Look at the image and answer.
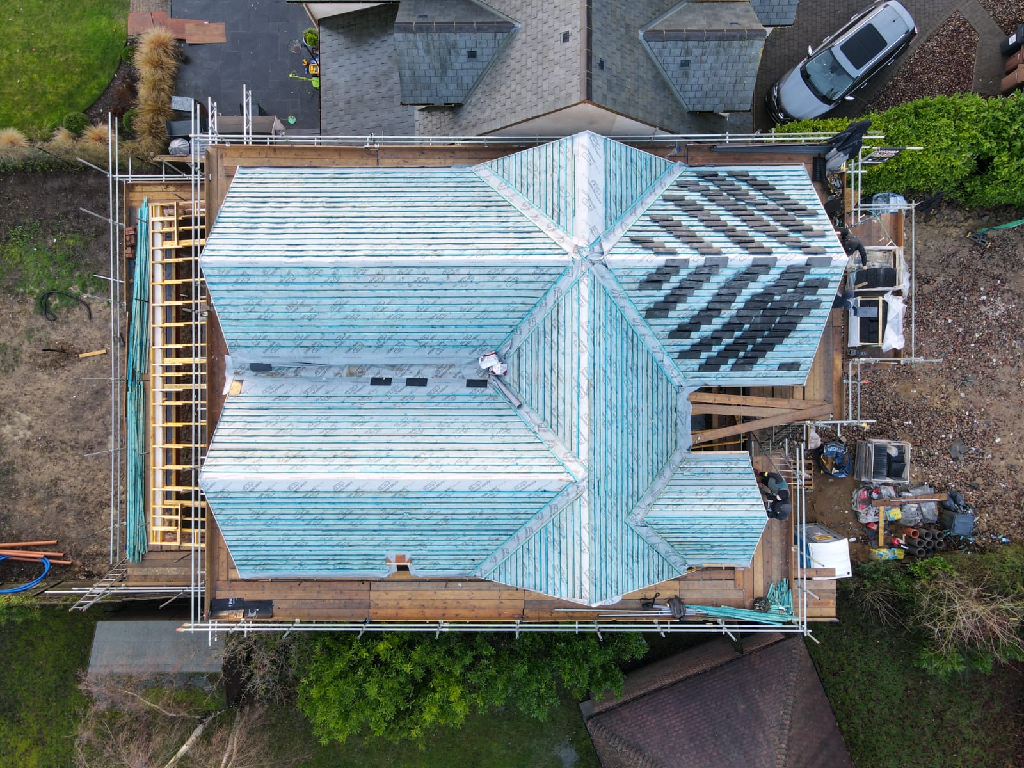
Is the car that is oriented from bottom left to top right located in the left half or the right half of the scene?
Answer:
right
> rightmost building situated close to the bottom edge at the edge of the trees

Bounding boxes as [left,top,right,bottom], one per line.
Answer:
[584,624,857,768]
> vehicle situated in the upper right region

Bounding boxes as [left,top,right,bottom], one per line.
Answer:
[759,0,921,131]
